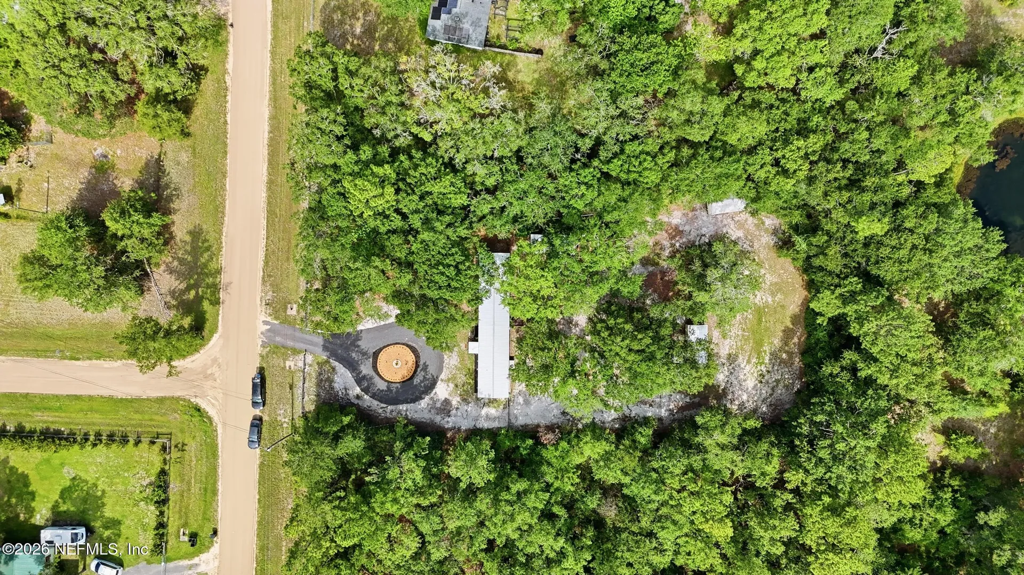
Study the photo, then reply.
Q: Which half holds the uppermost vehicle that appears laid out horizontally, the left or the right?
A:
left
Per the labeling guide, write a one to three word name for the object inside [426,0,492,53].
house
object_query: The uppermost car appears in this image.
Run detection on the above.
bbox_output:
[250,373,266,408]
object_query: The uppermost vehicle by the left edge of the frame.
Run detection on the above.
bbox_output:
[41,524,94,545]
